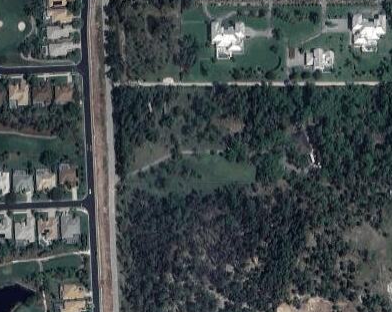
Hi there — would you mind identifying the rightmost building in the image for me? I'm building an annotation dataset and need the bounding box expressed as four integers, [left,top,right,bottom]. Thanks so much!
[351,14,387,44]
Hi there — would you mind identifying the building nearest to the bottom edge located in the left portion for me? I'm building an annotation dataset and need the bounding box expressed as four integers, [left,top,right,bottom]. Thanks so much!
[56,299,87,312]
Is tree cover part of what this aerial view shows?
Yes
